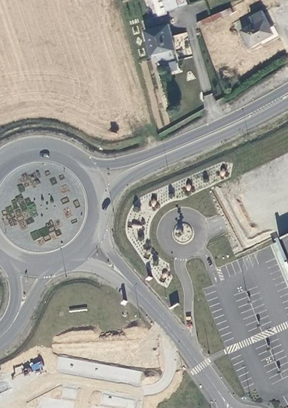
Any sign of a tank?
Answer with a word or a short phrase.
No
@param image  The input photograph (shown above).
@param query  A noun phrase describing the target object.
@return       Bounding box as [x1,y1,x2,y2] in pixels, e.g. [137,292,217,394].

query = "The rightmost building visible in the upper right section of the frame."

[236,10,282,54]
